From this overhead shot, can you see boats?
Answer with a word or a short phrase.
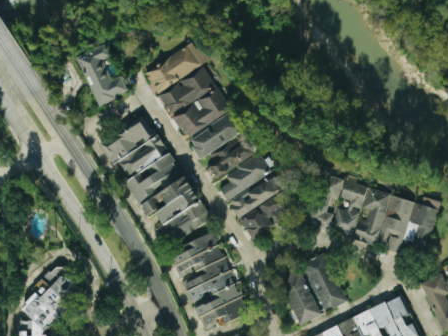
No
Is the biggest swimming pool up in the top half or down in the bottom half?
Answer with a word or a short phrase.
bottom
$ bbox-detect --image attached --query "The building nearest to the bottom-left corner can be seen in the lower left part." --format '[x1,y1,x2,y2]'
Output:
[19,267,74,336]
